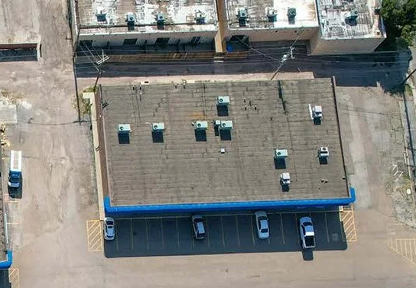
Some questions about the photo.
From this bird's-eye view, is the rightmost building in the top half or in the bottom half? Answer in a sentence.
The rightmost building sits in the top half of the picture.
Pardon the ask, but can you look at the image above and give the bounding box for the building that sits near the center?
[96,76,354,214]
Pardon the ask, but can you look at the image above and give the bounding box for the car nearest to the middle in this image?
[191,215,206,241]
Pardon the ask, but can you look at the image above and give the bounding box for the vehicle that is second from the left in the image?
[103,217,115,242]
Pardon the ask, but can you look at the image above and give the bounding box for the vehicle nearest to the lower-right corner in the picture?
[298,217,316,250]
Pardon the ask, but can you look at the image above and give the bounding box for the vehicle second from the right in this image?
[253,213,270,241]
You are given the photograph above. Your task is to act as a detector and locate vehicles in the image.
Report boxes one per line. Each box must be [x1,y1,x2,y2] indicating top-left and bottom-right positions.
[8,150,22,188]
[253,213,270,241]
[191,215,206,241]
[298,217,316,250]
[103,217,115,242]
